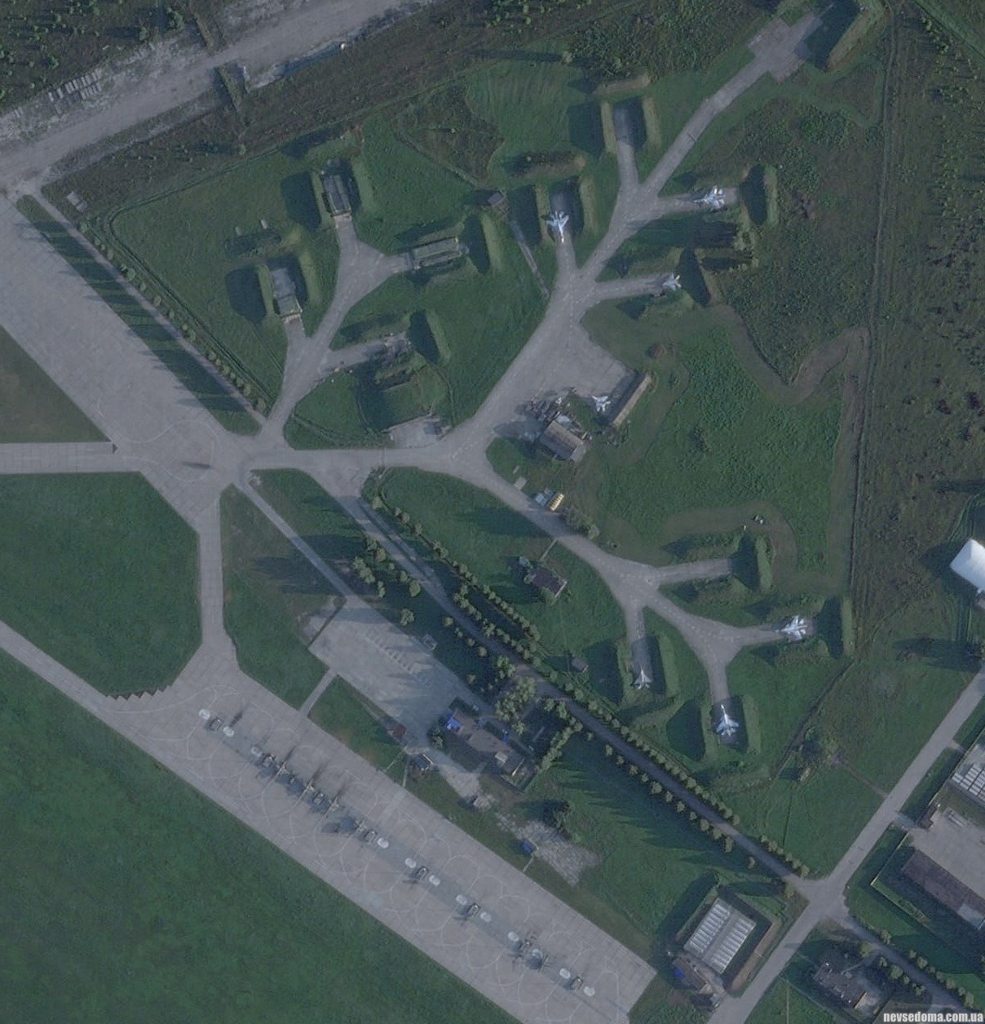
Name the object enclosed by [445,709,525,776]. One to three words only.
building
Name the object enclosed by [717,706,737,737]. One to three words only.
airplane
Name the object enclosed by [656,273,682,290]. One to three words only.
airplane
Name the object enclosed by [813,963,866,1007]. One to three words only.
house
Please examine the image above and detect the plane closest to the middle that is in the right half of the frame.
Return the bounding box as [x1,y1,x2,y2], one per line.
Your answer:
[593,396,615,414]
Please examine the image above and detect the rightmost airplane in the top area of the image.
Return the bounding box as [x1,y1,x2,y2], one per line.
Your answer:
[695,187,727,208]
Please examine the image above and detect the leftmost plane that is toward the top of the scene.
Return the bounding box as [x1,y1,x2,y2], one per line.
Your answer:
[550,212,570,241]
